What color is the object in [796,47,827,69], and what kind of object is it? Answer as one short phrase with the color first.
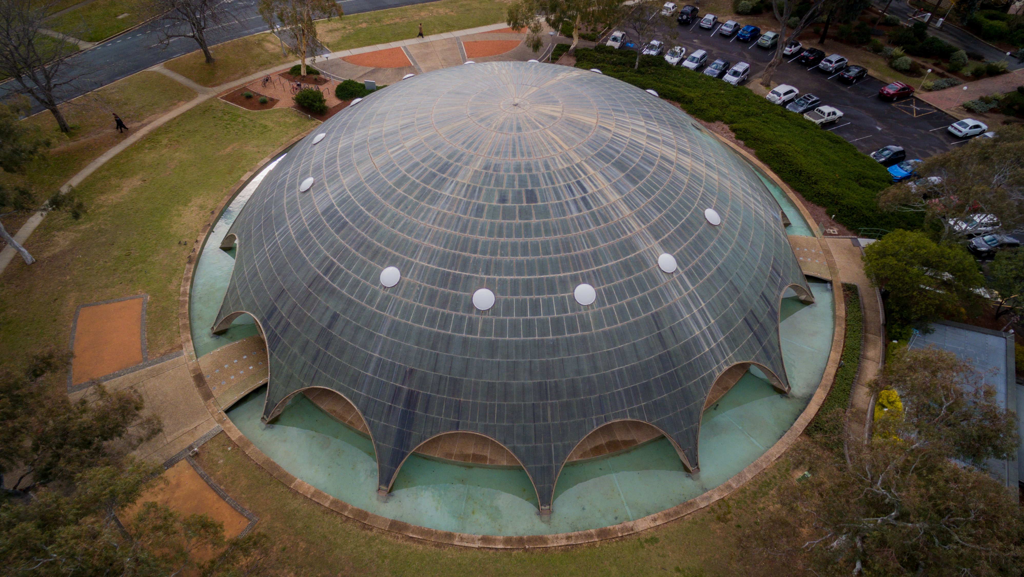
black car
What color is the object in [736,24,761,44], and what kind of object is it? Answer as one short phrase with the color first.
blue car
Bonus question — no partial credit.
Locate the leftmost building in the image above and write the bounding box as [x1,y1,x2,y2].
[200,59,825,531]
